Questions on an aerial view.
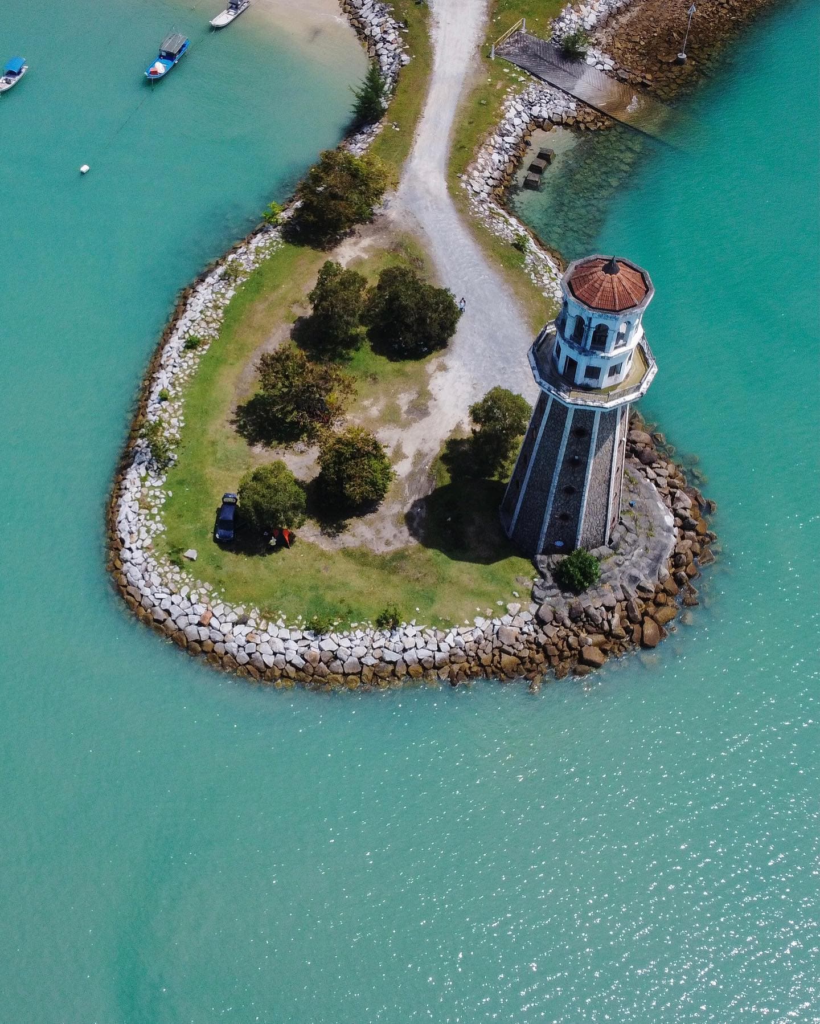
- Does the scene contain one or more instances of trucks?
No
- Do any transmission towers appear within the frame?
No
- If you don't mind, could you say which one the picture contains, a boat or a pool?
boat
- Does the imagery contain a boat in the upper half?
Yes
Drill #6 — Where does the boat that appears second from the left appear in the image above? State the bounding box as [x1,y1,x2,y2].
[146,20,196,79]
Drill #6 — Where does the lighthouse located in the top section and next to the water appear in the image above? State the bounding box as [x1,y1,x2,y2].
[505,255,657,554]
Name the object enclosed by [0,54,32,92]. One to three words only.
boat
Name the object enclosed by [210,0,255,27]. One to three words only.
boat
